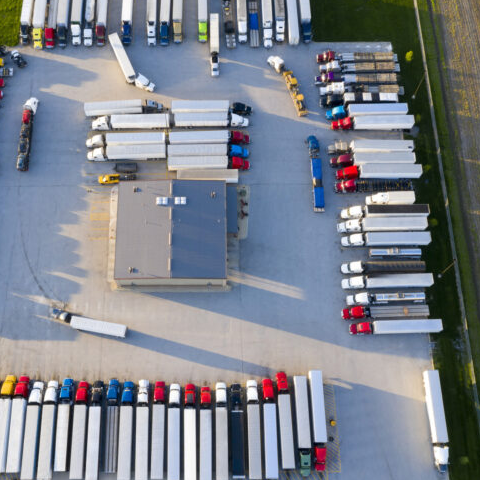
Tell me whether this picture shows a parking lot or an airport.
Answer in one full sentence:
This image shows a parking lot.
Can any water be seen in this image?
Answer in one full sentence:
No, there is no water in the image.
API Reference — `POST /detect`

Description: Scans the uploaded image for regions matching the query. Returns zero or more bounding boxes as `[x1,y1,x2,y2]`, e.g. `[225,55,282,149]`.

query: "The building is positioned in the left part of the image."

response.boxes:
[114,177,238,282]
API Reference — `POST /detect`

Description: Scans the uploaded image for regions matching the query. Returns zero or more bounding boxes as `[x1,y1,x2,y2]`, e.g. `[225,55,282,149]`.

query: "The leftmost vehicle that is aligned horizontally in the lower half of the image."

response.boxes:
[51,308,127,339]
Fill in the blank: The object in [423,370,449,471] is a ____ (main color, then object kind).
white truck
